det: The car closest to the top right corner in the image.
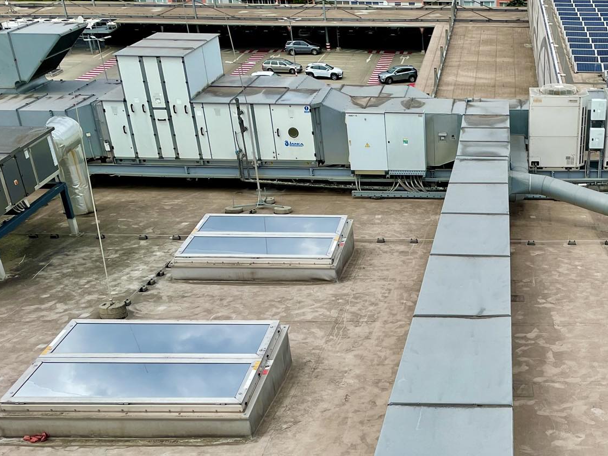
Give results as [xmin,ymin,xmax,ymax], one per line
[401,27,418,41]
